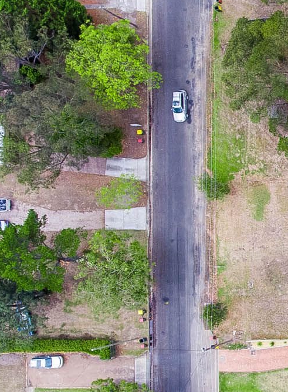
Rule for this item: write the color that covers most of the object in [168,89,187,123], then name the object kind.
white car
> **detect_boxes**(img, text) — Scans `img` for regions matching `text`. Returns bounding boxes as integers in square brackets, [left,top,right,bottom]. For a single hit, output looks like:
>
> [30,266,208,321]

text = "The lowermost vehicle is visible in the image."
[26,356,62,371]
